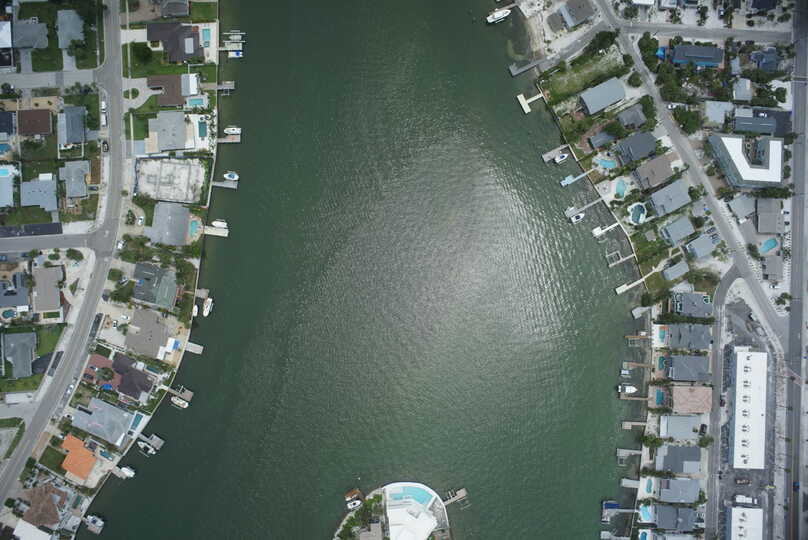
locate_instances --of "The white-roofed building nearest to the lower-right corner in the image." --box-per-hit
[721,503,764,540]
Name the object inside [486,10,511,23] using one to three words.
boat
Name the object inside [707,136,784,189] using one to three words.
building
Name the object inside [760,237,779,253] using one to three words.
swimming pool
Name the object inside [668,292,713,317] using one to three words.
house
